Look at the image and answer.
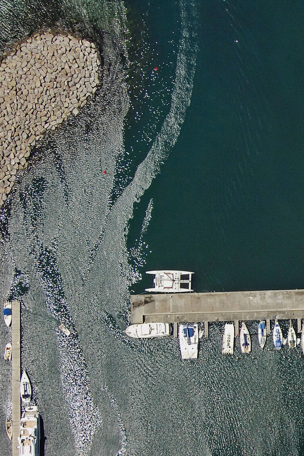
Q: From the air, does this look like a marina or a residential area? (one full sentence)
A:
This image shows a marina.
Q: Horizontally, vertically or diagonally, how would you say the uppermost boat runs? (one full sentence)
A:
What the image shows is the uppermost boat lying horizontally.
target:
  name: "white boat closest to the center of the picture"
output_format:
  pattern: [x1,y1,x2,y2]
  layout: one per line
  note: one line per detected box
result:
[146,270,193,291]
